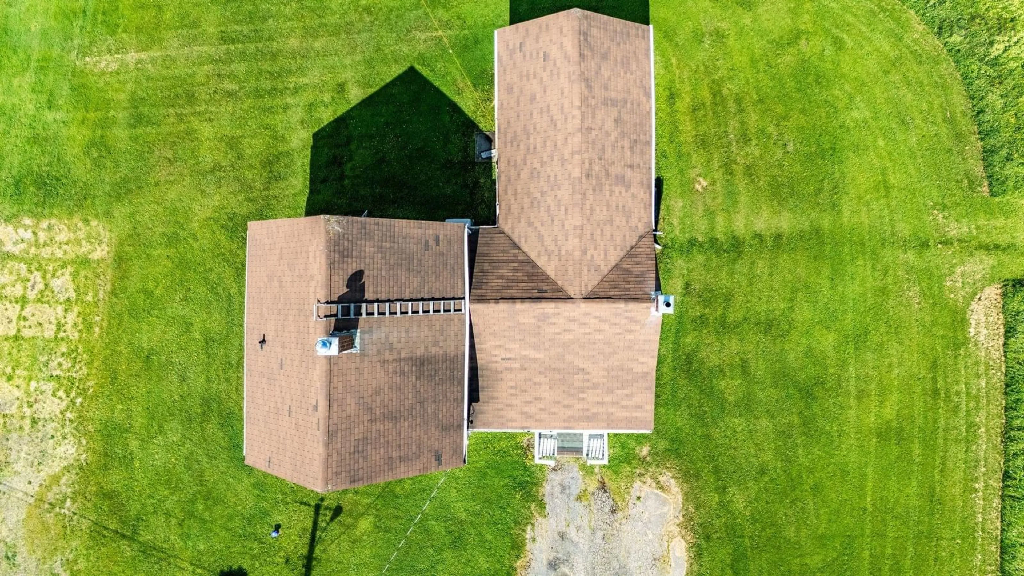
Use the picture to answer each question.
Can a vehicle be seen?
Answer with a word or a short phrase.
No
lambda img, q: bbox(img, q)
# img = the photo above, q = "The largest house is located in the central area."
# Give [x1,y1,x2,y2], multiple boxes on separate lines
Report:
[244,7,675,493]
